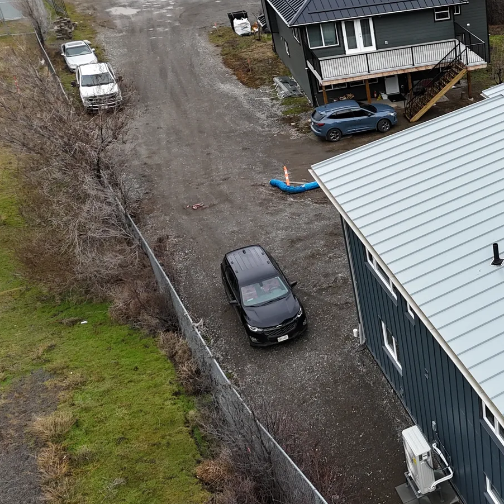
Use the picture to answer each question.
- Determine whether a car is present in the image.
Yes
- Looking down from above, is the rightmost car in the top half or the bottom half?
top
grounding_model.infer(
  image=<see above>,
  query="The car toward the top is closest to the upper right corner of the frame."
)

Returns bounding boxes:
[304,97,400,142]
